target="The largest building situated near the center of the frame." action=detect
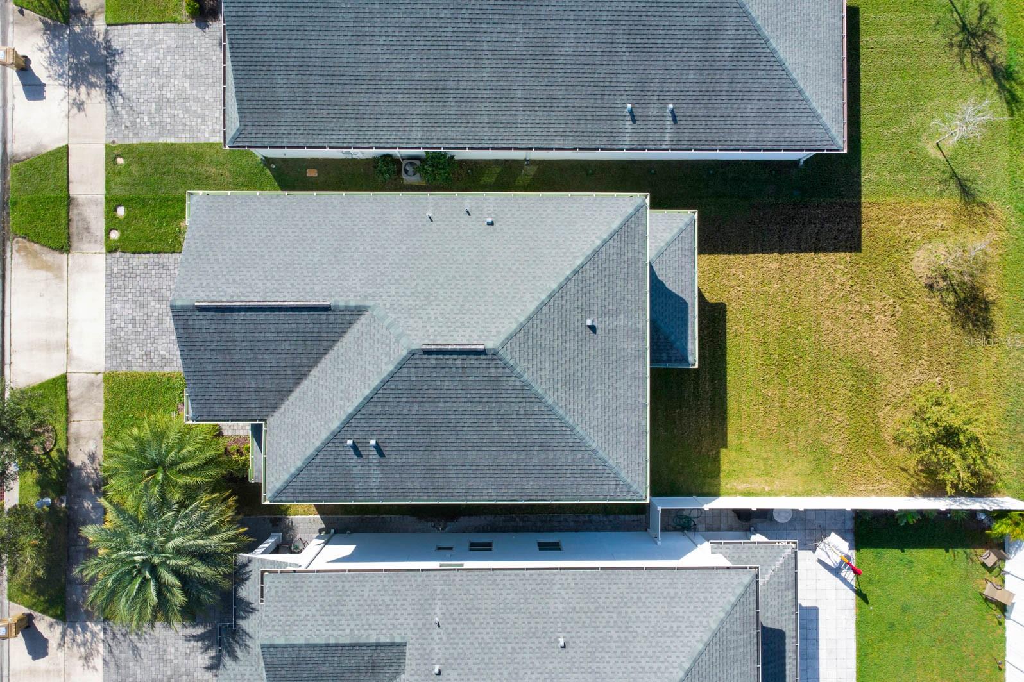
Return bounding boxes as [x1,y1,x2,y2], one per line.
[168,191,698,504]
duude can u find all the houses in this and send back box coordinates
[168,191,698,504]
[221,0,847,167]
[213,524,798,682]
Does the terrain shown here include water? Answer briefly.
No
